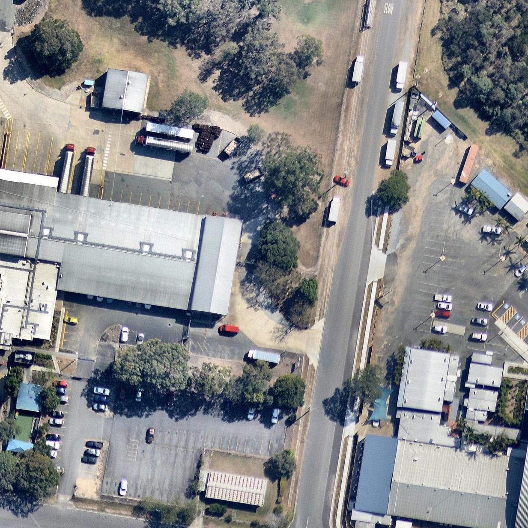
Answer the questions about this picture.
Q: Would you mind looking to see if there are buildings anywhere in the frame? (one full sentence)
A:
Yes, there's a building down there.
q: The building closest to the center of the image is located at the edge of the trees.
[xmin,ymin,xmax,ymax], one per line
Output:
[191,216,242,318]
